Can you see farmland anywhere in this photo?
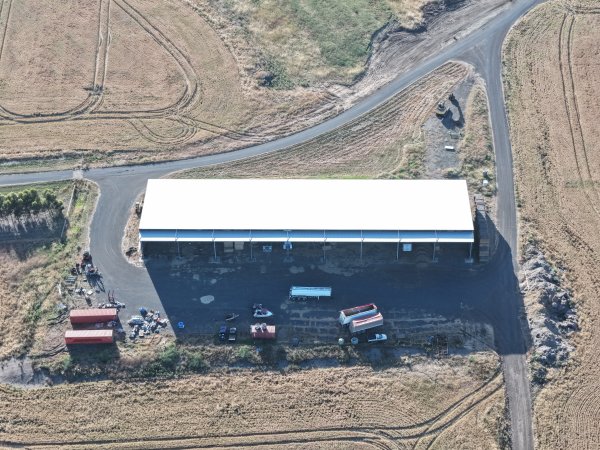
Yes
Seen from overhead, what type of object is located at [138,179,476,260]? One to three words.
shed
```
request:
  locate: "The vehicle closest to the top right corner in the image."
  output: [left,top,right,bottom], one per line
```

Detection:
[434,90,456,117]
